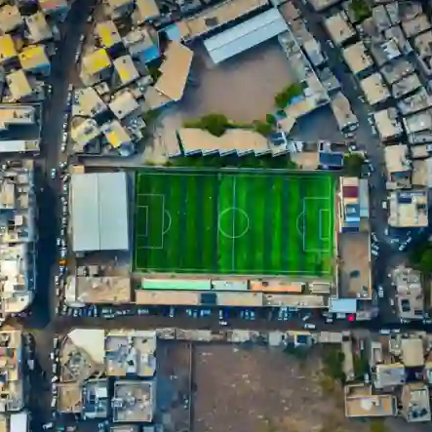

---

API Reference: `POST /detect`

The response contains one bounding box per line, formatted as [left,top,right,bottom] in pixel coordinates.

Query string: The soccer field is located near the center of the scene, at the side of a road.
[132,168,334,278]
